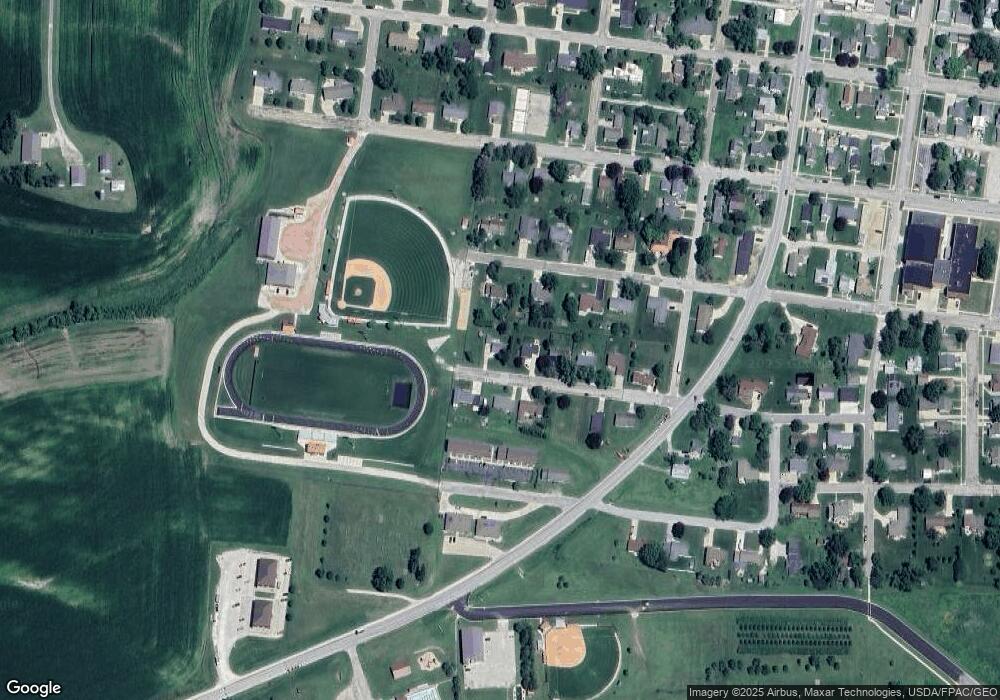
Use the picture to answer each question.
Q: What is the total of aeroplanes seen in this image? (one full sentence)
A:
There are no aeroplanes in this view.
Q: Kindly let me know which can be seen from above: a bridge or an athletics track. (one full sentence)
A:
The one in the frame is an athletics track.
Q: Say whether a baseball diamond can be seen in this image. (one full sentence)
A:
Yes, there is a baseball diamond in the image.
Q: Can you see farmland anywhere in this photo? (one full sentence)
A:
Yes, some farmland is visible.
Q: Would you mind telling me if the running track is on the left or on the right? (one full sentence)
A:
It is on the left.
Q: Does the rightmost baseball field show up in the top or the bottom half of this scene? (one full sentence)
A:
It is in the bottom half that the rightmost baseball field appears.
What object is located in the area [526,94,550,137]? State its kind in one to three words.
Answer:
sports court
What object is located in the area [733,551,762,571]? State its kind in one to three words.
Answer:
house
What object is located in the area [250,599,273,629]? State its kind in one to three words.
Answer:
building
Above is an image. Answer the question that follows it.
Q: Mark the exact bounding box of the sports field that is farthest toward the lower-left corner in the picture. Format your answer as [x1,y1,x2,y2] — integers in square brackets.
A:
[235,344,416,425]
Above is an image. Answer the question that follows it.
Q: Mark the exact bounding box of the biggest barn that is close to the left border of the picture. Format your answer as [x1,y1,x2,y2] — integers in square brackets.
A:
[22,132,42,165]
